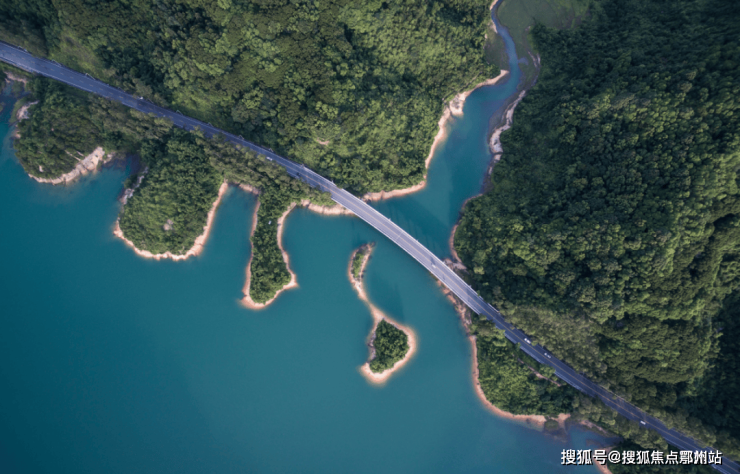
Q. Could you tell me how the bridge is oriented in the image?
on a diagonal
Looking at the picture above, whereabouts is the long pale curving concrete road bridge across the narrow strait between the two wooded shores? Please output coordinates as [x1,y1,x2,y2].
[307,169,508,319]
